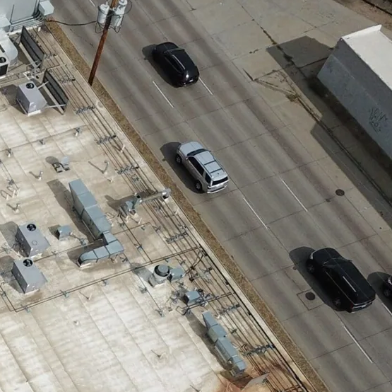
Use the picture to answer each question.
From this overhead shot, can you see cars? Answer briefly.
Yes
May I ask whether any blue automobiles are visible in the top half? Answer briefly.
No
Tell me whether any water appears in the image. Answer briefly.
No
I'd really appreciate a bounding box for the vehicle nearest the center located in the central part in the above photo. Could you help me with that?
[177,141,233,193]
